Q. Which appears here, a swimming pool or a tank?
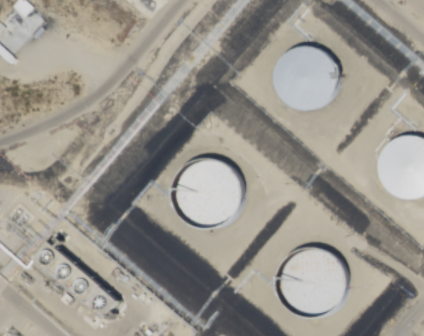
tank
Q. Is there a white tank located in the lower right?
Yes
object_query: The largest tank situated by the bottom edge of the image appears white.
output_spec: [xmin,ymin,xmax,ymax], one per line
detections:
[274,246,350,320]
